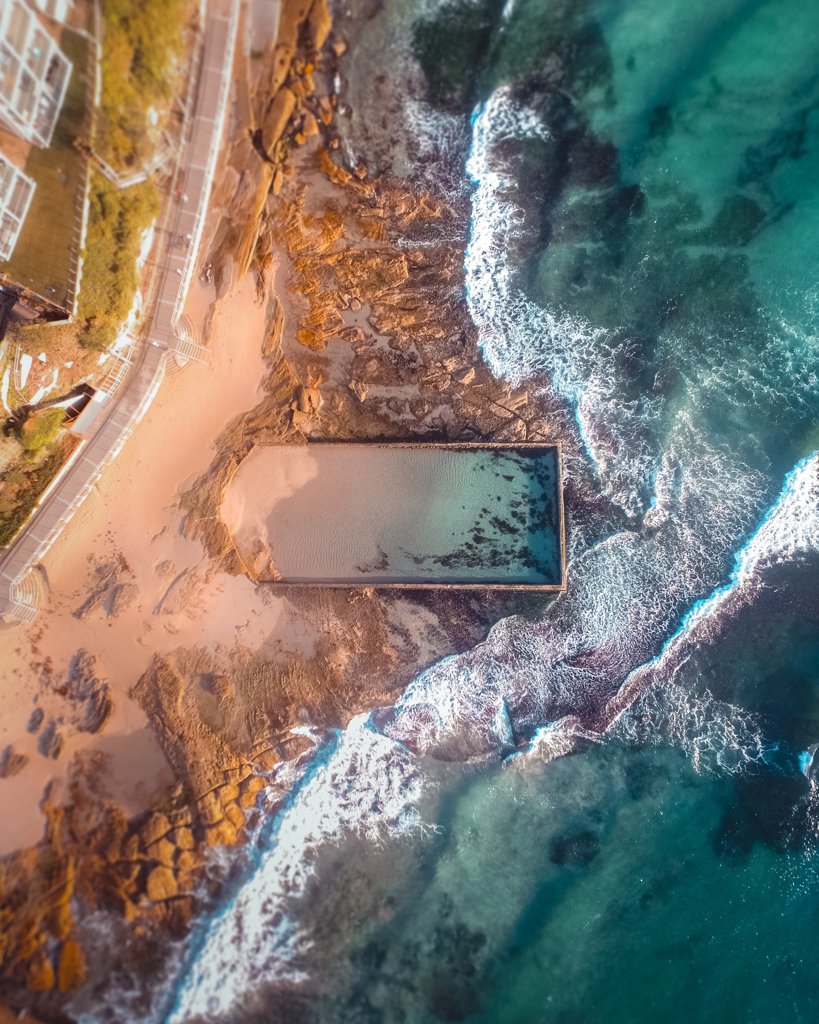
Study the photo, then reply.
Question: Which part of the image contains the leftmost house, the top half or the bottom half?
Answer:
top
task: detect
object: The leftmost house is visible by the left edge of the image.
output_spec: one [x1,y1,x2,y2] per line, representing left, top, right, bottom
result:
[0,284,40,348]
